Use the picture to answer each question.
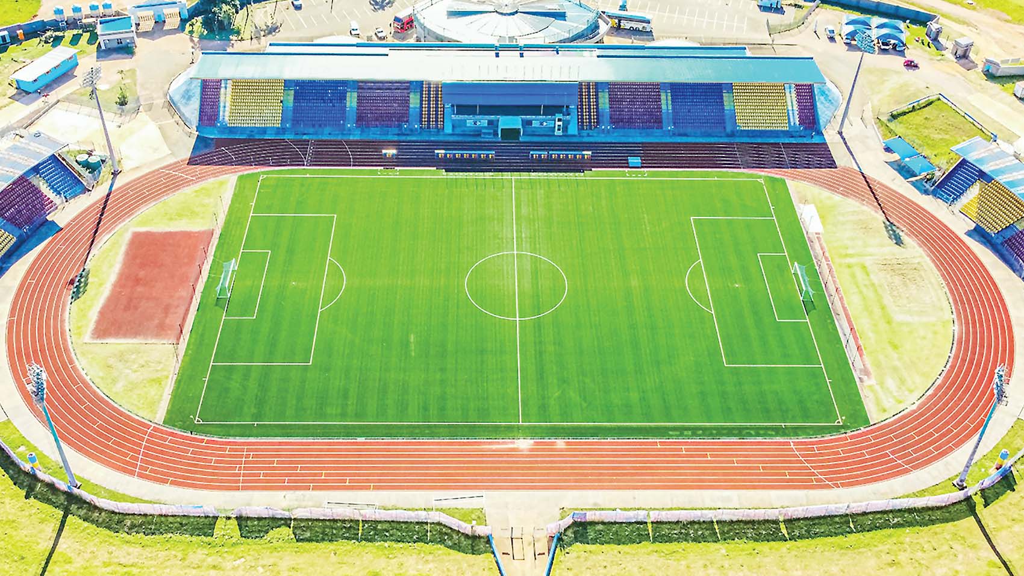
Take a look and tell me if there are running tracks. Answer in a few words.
Yes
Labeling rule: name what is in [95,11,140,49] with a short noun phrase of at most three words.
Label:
house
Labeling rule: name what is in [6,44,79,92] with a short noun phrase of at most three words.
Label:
building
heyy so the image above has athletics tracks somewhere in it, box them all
[7,139,1014,490]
